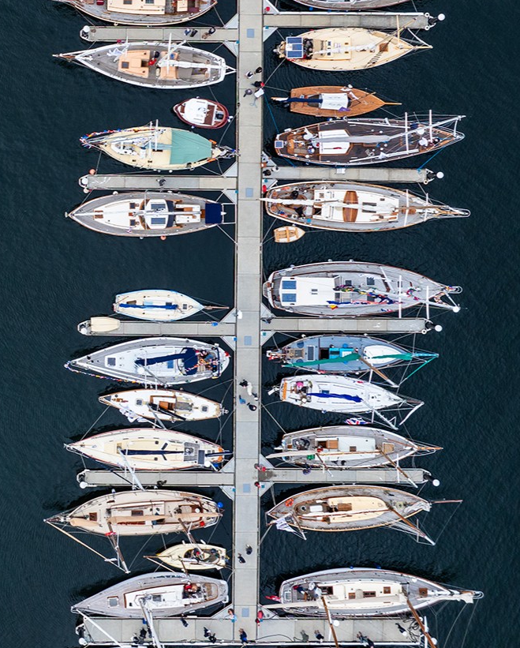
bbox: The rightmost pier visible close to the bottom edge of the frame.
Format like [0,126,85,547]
[258,604,424,648]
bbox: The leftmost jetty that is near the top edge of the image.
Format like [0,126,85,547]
[79,15,237,55]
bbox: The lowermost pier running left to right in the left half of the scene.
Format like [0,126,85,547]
[78,602,233,647]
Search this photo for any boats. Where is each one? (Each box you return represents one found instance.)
[267,486,464,547]
[172,98,234,127]
[65,192,235,236]
[267,334,440,388]
[90,316,119,332]
[263,426,445,489]
[43,492,223,576]
[113,289,230,321]
[51,34,236,88]
[272,226,306,242]
[269,376,424,431]
[65,338,230,389]
[275,110,467,164]
[260,568,484,648]
[271,87,403,117]
[362,344,402,363]
[64,429,233,493]
[275,16,434,70]
[80,118,239,171]
[71,575,228,648]
[254,183,470,233]
[99,389,227,431]
[143,543,230,574]
[263,262,463,320]
[51,0,217,25]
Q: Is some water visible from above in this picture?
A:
Yes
